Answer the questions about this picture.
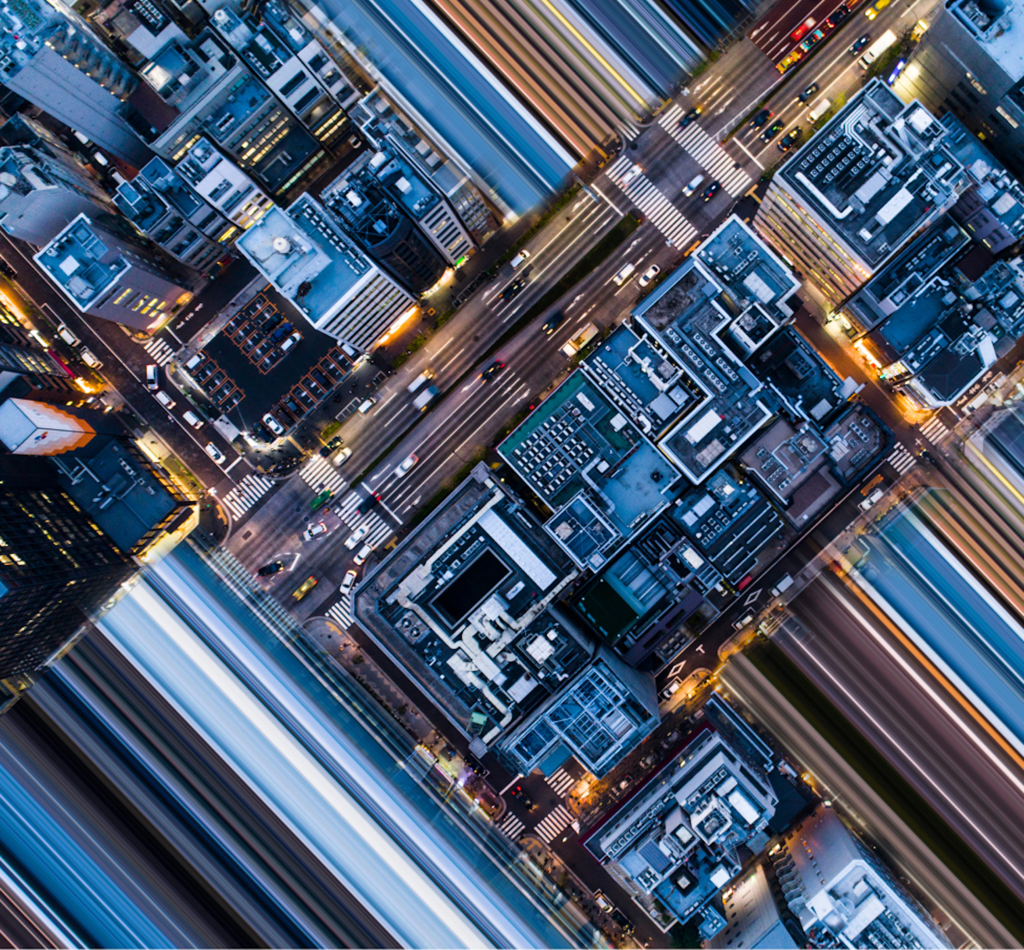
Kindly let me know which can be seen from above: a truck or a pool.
truck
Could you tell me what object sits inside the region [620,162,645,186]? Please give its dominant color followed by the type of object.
white car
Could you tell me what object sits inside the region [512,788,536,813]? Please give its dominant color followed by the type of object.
black car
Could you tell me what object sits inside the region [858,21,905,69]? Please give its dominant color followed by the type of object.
white truck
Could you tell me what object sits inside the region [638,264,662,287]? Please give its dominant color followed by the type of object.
white car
